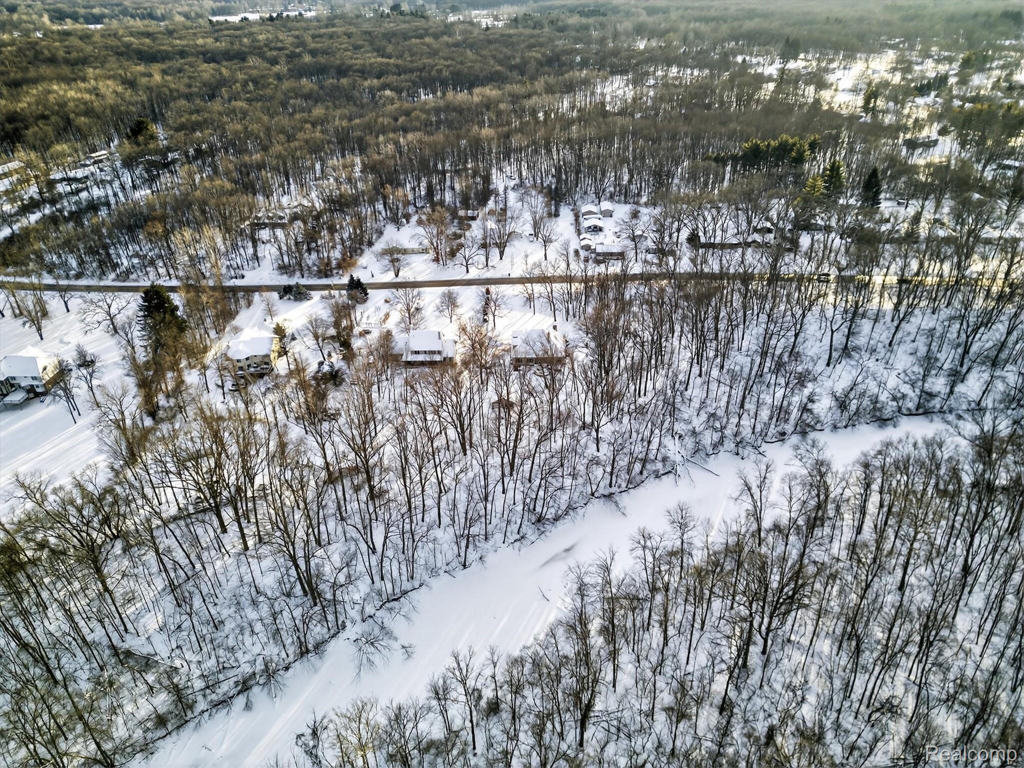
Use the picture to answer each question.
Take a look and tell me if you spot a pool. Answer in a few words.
No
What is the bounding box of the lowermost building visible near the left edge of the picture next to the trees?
[0,345,68,407]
